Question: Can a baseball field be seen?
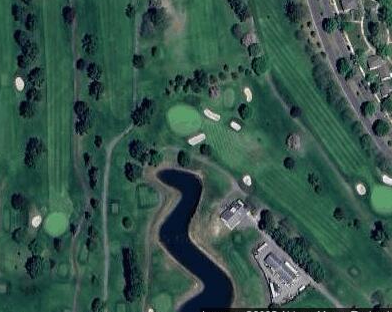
No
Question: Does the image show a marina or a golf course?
golf course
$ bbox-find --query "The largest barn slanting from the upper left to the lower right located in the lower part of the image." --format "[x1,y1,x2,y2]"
[264,252,297,285]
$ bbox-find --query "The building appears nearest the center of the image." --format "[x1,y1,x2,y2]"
[220,199,246,231]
